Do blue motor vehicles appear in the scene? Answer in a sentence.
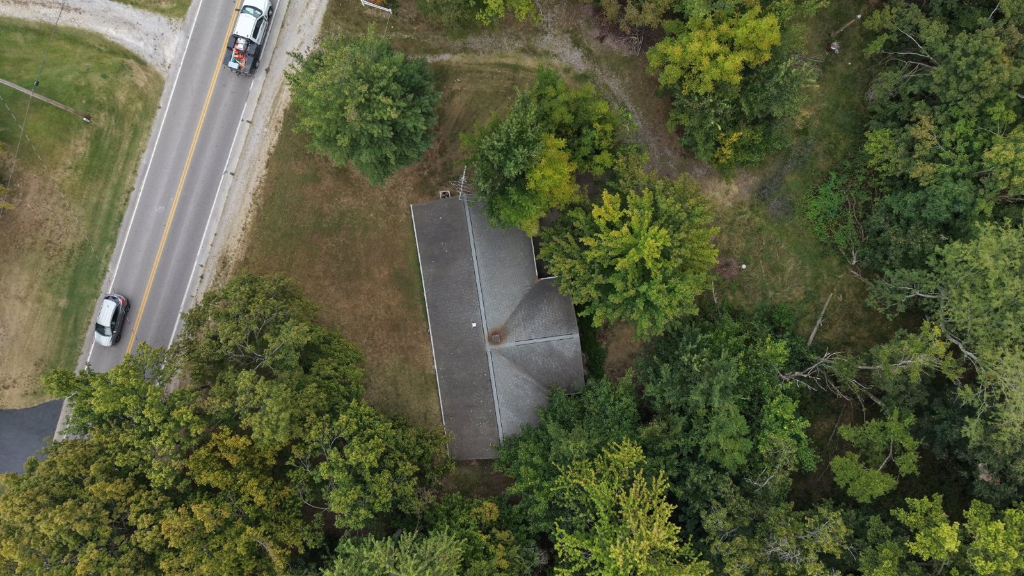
No, I can see no blue motor vehicle in this picture.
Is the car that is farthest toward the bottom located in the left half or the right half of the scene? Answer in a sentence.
The car that is farthest toward the bottom sits on the left side.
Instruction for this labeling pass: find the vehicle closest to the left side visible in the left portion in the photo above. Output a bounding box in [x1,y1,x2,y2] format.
[94,293,131,347]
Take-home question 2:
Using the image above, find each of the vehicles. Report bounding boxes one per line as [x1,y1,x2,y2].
[94,293,131,347]
[224,0,274,75]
